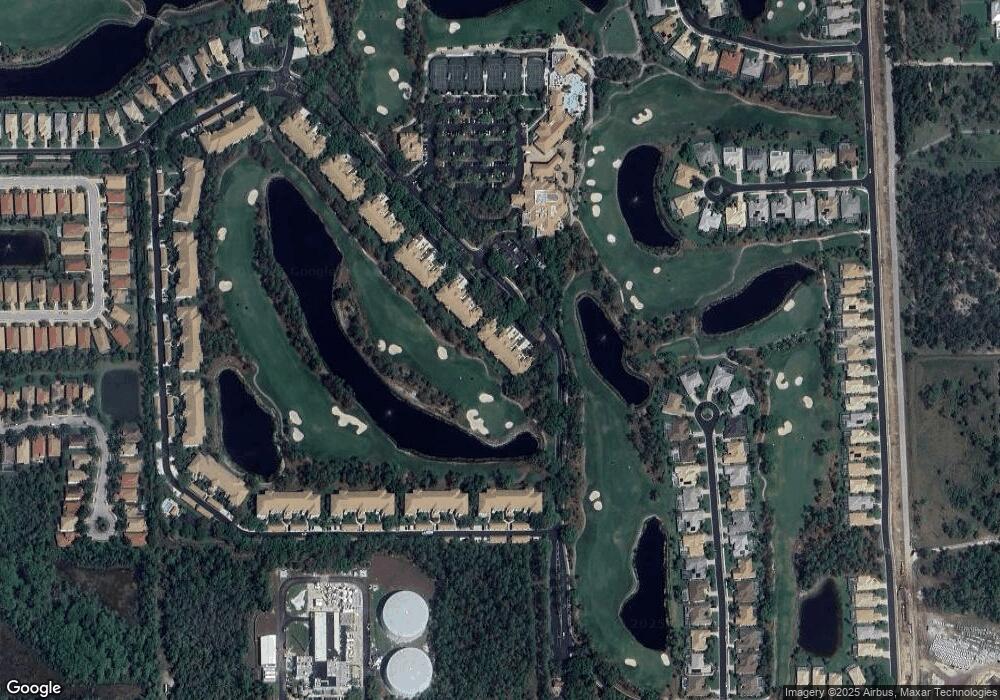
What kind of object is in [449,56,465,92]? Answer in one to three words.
tennis court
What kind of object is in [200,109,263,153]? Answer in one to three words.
building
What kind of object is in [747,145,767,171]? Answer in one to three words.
house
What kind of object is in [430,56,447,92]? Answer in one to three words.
tennis court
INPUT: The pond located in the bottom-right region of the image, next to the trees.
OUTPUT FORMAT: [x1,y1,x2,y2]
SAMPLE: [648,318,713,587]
[797,578,842,655]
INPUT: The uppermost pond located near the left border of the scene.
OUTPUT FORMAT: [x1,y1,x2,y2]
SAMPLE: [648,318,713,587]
[0,230,48,268]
